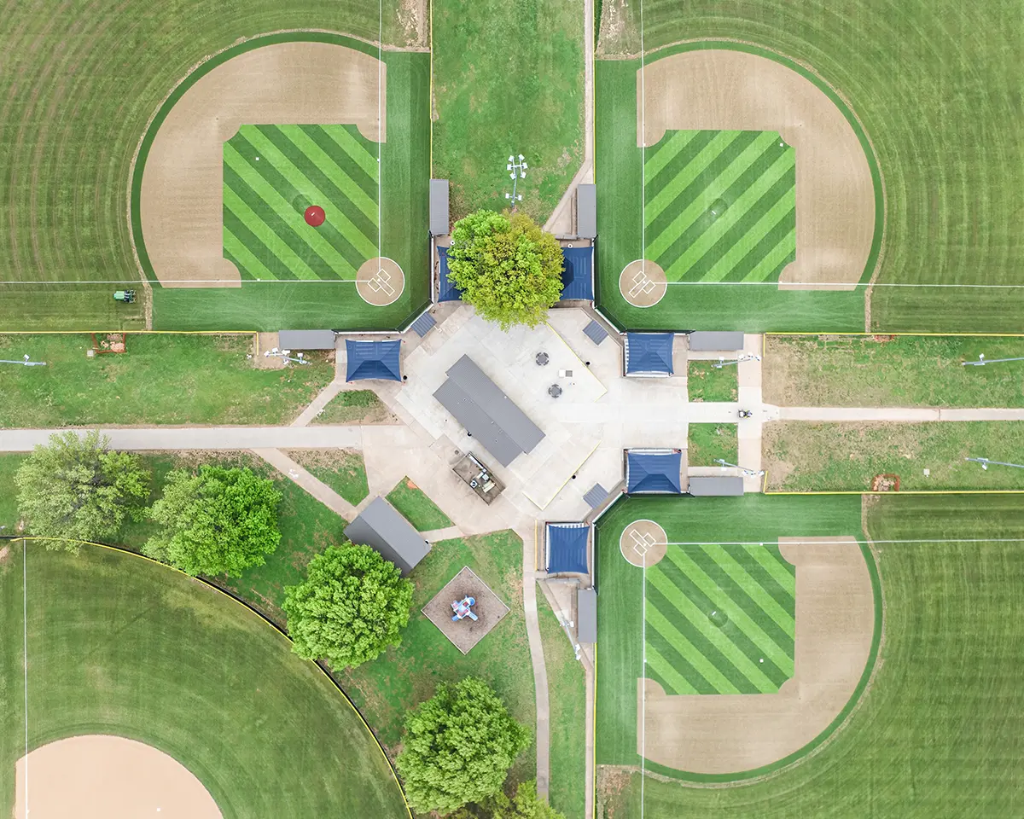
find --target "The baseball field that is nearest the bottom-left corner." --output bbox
[0,538,407,819]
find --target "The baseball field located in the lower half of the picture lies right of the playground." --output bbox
[596,494,1024,819]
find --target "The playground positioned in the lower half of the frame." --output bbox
[421,567,509,655]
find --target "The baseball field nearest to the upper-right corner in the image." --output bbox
[596,0,1024,334]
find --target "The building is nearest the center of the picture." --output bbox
[433,354,546,467]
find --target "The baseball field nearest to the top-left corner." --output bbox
[0,0,430,332]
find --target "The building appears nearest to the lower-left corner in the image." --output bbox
[344,497,431,579]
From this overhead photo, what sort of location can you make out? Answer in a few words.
sports ground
